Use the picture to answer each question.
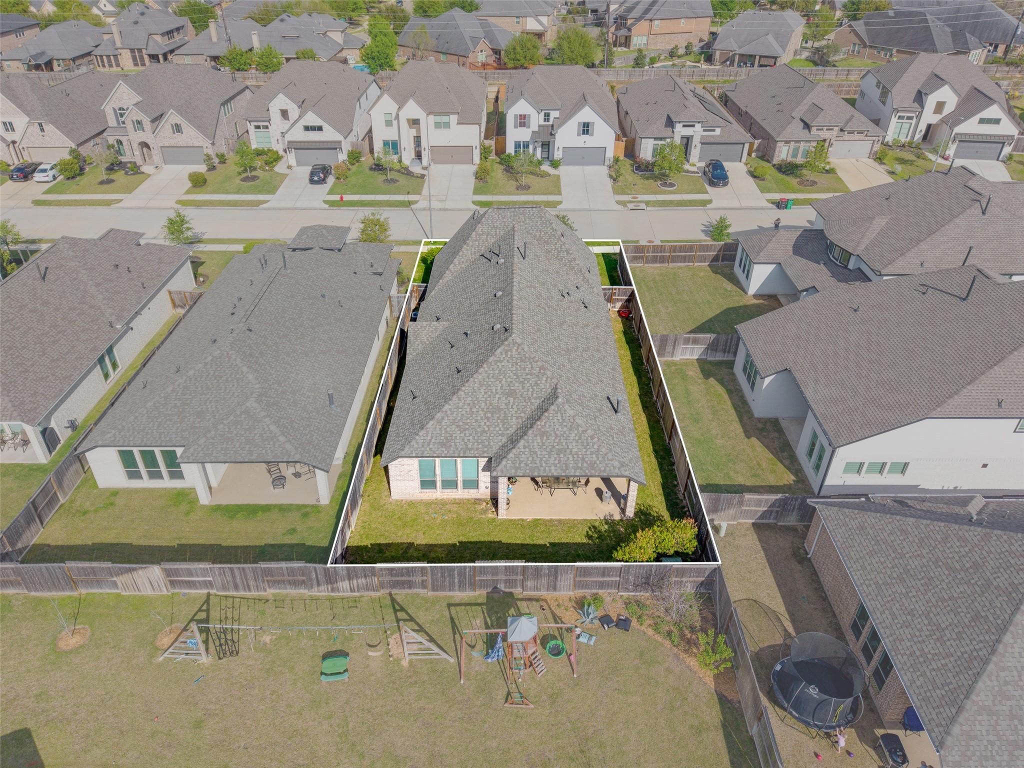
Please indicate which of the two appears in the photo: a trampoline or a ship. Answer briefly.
trampoline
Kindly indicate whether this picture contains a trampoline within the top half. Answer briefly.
No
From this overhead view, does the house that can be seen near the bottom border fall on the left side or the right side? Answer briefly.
right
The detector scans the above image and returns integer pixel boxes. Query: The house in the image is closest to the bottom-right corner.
[814,481,1024,768]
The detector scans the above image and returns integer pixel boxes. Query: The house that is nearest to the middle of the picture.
[382,204,648,519]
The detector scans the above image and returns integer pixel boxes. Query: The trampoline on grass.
[771,632,876,747]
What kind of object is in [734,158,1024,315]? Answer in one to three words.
house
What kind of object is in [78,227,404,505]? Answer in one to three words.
house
